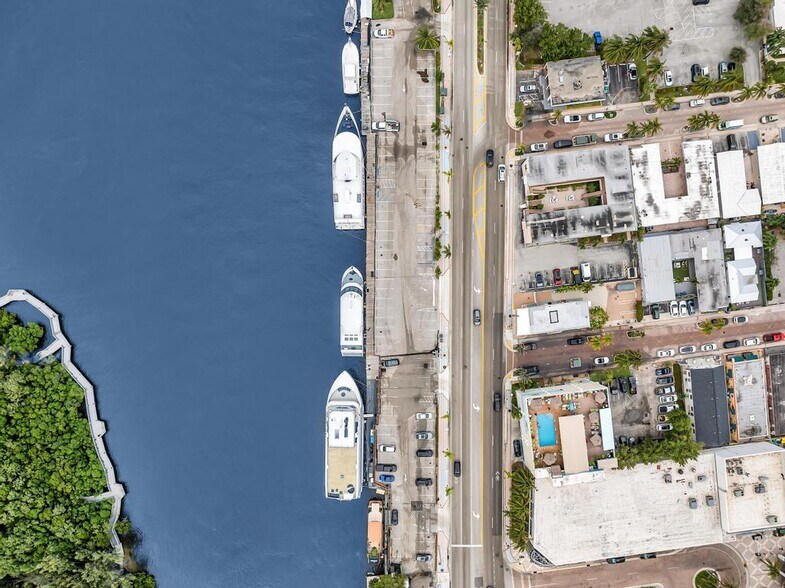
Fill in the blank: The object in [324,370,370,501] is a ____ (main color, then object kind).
white boat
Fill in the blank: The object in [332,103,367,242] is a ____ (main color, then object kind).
white boat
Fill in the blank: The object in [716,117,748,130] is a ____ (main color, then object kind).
white vehicle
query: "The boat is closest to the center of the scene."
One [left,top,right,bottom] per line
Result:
[340,267,367,357]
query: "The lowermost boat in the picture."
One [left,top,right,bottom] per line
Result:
[368,500,383,563]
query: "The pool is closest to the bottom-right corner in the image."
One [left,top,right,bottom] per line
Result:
[535,412,559,448]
